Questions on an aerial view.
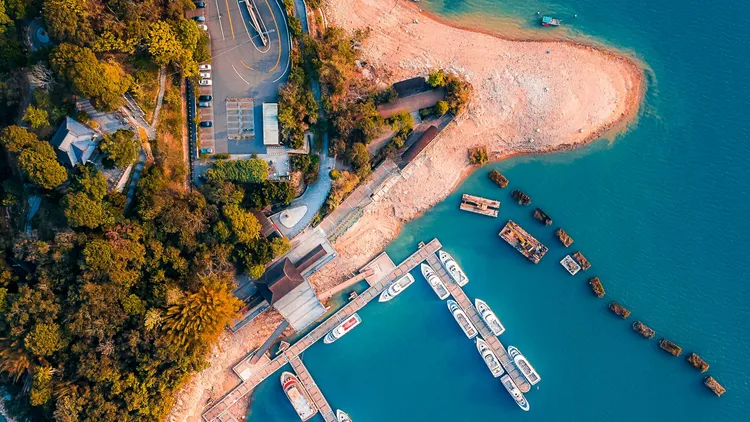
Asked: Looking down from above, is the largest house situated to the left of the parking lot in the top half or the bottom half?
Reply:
top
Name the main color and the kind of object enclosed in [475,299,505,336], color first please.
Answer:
white boat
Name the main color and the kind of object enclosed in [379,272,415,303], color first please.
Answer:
white boat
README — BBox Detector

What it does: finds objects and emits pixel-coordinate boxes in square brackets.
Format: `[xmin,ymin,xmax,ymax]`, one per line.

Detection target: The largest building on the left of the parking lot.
[51,116,100,166]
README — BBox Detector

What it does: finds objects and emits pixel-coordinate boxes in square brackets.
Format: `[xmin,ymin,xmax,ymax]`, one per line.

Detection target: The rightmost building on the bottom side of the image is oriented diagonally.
[293,244,327,274]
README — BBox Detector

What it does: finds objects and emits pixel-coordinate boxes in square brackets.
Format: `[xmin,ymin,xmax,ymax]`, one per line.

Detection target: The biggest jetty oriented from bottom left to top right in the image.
[201,239,441,418]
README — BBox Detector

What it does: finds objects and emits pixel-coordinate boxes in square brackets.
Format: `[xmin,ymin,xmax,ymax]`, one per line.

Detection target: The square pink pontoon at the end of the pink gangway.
[360,251,393,283]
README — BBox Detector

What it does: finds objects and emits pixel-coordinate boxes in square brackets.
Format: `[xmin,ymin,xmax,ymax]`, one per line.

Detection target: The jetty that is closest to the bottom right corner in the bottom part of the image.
[422,257,529,392]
